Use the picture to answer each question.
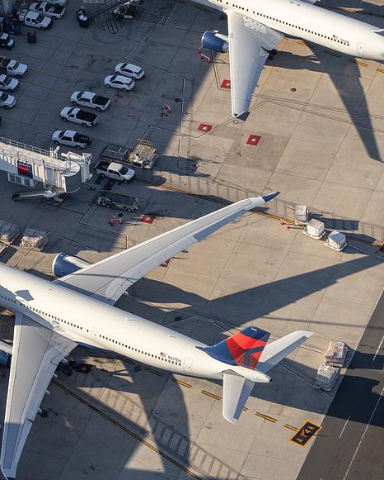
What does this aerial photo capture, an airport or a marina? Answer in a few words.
airport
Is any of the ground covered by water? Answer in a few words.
No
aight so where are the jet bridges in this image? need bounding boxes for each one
[83,0,152,28]
[0,136,102,215]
